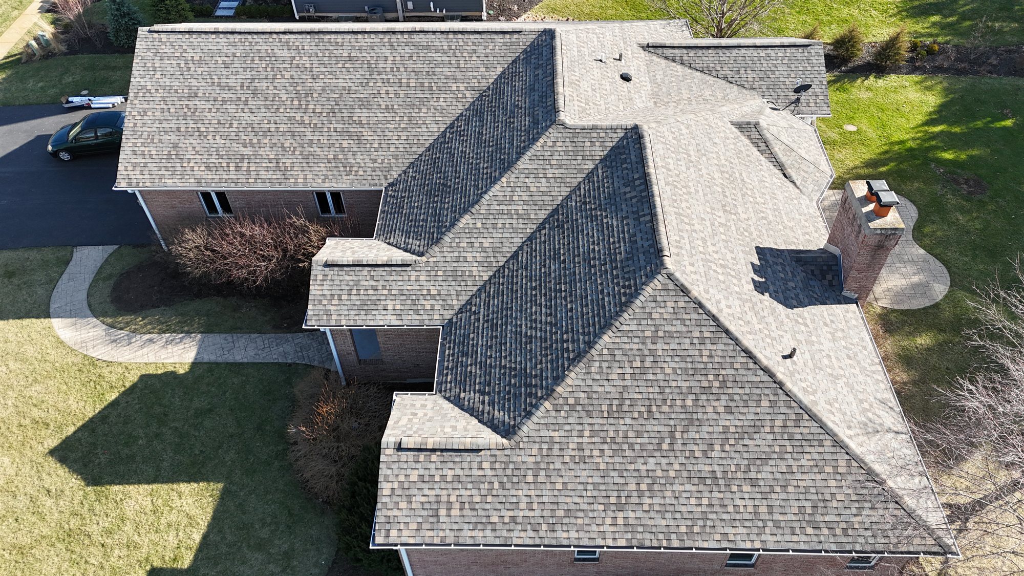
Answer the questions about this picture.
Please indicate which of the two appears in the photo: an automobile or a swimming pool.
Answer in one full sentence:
Of the two, only an automobile appears.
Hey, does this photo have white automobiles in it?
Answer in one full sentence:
No, there appears to be no white automobile in this shot.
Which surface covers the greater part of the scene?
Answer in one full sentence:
Most of the picture is covered by buildings.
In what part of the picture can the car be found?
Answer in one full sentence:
Look in the top left portion of the view to spot the car.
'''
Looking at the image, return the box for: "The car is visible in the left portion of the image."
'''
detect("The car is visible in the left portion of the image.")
[40,109,127,160]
